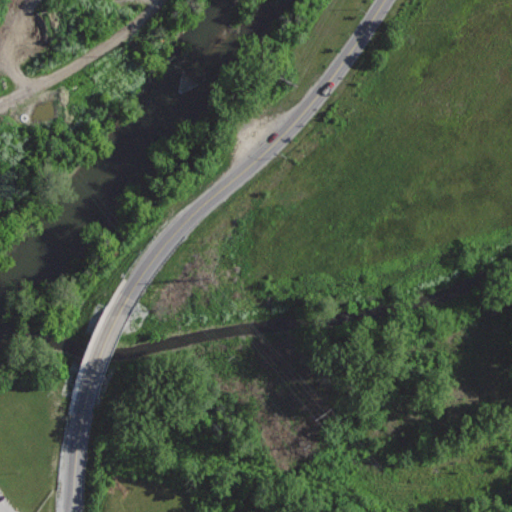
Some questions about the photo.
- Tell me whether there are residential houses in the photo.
No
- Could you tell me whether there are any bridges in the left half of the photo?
Yes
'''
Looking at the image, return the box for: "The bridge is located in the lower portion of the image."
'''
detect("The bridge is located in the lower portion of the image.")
[60,271,150,399]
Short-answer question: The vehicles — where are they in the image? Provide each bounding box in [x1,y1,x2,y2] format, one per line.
[322,81,334,95]
[269,132,278,142]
